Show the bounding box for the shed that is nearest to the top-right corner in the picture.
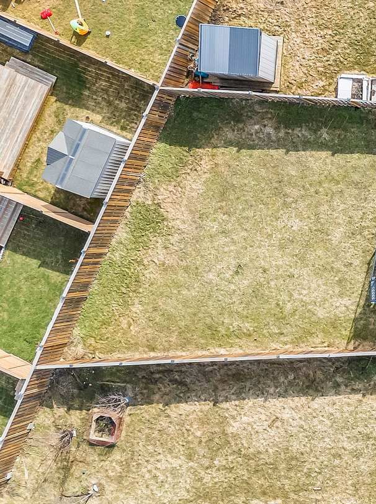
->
[198,23,284,90]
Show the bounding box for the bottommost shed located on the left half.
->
[38,121,135,197]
